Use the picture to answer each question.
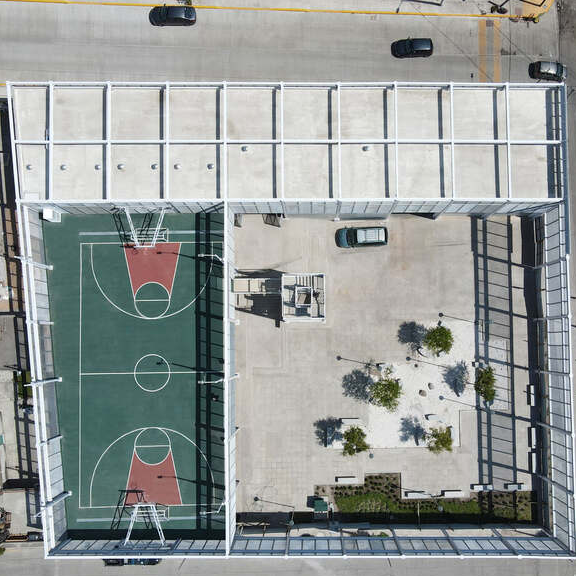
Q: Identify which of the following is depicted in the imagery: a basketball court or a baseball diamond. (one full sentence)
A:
Looking from above, you can make out a basketball court.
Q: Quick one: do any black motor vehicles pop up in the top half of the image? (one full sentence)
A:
Yes, there is a black motor vehicle in the top half of the image.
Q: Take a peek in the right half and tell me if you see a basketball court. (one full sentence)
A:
No, there's no basketball court to be seen in the right half.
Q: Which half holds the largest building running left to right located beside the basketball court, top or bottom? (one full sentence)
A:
You can find the largest building running left to right located beside the basketball court in the top half.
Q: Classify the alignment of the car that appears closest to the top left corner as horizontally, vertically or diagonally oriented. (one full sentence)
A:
From this overhead view, the car that appears closest to the top left corner appears to run horizontally.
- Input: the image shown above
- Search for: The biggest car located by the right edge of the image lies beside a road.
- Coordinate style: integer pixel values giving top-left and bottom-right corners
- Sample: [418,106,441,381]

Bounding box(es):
[530,60,569,83]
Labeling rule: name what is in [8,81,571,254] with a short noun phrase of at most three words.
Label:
building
